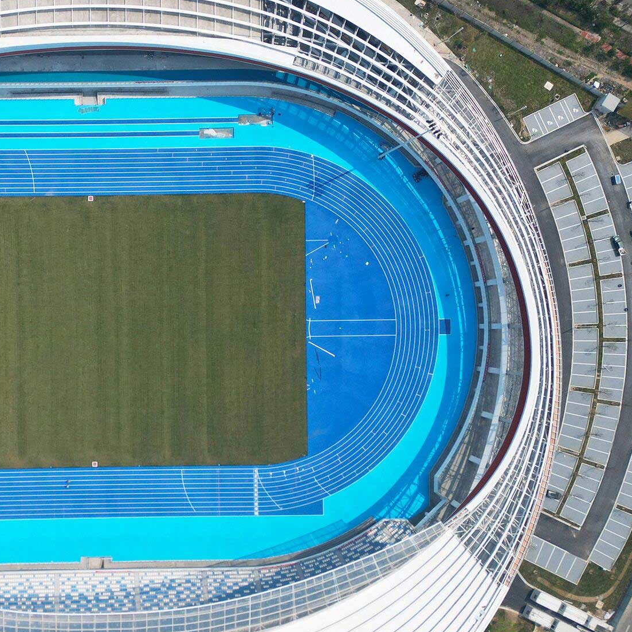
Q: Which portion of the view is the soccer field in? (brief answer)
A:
left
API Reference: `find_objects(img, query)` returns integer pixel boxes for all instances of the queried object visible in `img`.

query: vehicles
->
[611,170,625,187]
[546,489,564,501]
[612,234,630,257]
